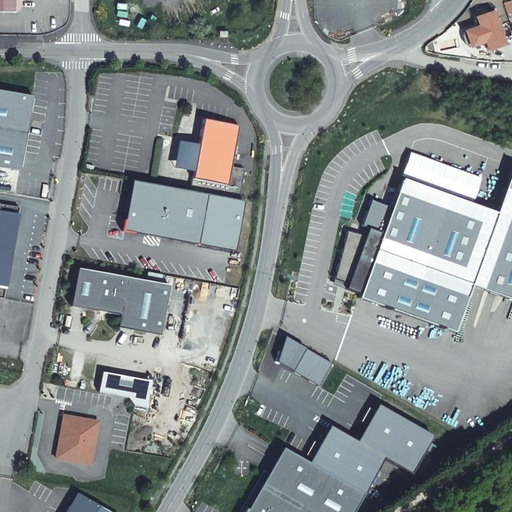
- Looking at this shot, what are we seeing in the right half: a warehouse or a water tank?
warehouse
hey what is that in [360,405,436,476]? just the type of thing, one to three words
building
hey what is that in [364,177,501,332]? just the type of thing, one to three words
warehouse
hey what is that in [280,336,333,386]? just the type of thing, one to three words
shed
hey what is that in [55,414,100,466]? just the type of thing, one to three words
house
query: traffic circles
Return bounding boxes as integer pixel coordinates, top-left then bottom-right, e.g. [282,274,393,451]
[252,37,345,130]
